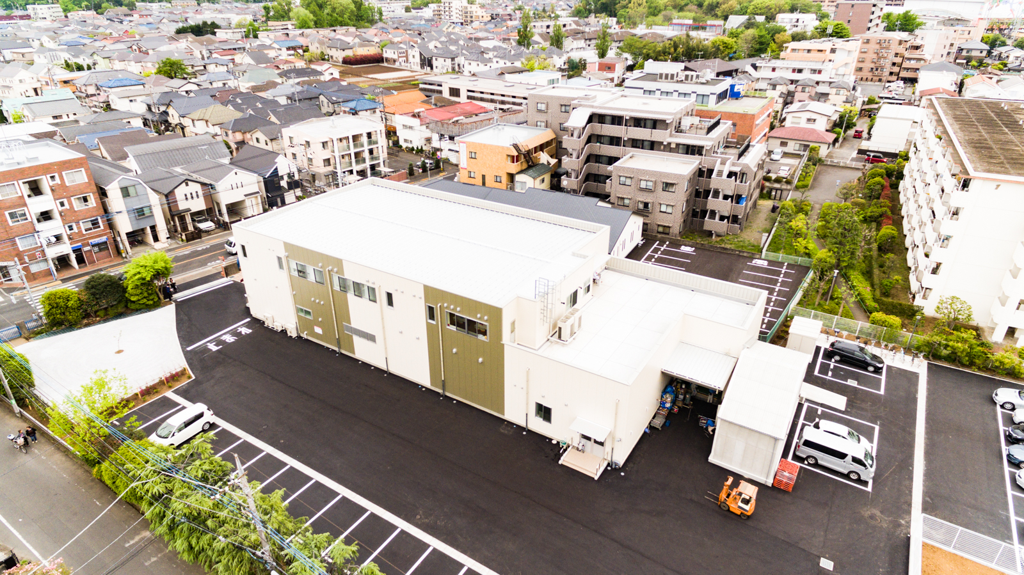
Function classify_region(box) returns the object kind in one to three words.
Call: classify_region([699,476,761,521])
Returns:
work vehicle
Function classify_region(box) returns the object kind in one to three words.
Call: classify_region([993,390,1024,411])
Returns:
car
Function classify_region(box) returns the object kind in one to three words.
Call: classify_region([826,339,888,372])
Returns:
car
